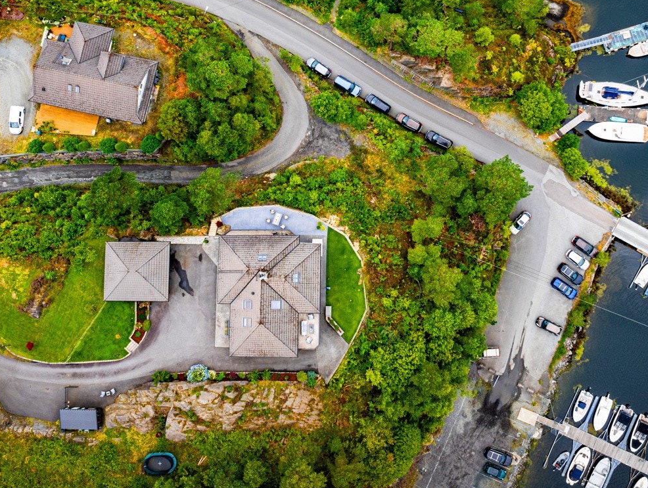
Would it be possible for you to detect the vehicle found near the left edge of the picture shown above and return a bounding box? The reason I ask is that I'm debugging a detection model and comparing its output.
[7,105,26,135]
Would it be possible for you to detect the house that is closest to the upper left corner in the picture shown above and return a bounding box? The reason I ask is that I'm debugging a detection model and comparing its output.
[29,22,160,136]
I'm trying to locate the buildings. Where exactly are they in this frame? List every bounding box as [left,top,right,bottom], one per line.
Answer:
[61,408,101,429]
[103,241,171,301]
[217,230,322,358]
[29,22,160,136]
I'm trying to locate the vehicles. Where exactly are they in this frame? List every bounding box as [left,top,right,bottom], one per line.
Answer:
[7,105,26,135]
[364,91,393,114]
[562,248,594,271]
[306,57,332,77]
[481,459,510,481]
[508,208,534,236]
[533,315,565,337]
[555,262,586,286]
[395,111,425,134]
[547,277,579,302]
[424,128,454,150]
[483,445,516,467]
[332,73,363,97]
[569,232,601,256]
[471,345,502,361]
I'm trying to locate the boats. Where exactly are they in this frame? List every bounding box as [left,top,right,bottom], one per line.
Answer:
[632,412,648,452]
[552,451,569,474]
[633,477,648,488]
[595,389,615,430]
[564,447,592,487]
[586,458,610,488]
[635,265,648,290]
[574,385,594,421]
[587,119,648,140]
[577,78,648,106]
[627,39,648,54]
[611,400,635,442]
